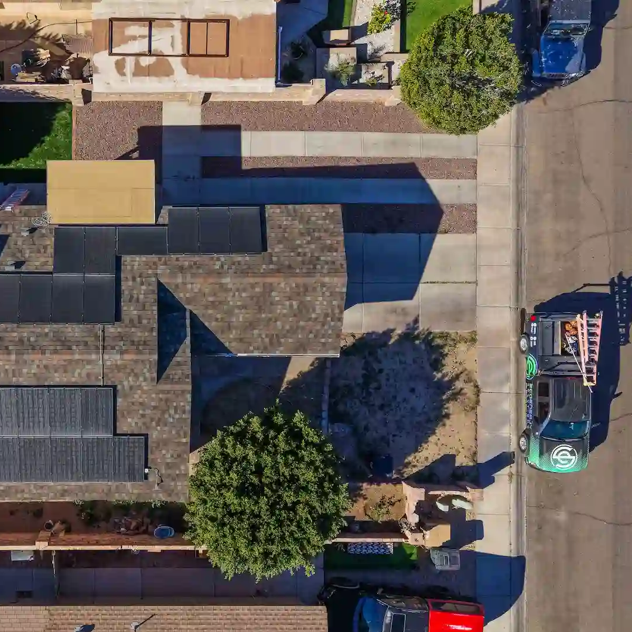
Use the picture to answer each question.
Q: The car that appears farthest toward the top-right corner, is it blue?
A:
Yes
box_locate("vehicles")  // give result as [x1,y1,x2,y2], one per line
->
[314,582,484,632]
[517,312,596,471]
[521,0,591,82]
